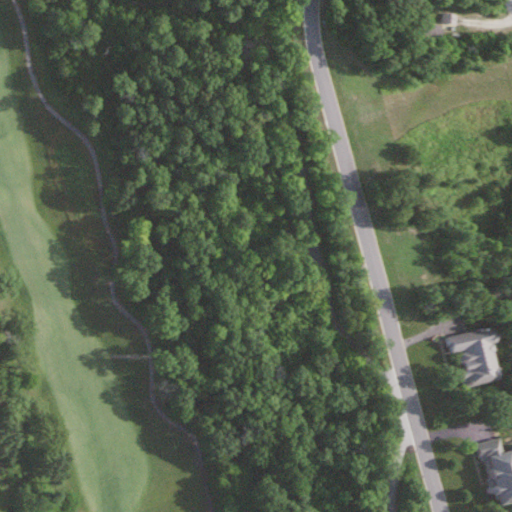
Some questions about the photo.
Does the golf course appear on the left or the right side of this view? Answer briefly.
left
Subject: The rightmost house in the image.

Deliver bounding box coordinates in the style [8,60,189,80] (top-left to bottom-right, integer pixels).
[478,439,512,508]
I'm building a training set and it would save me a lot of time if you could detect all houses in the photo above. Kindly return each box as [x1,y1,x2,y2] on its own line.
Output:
[446,328,503,384]
[478,439,512,508]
